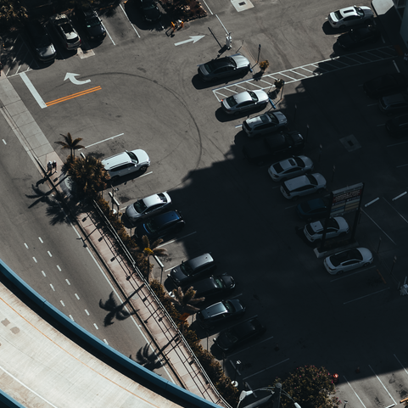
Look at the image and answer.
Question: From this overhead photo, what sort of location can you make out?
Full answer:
The area seen from above is a parking lot.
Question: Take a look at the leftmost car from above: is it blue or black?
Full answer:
From above, the leftmost car appears black.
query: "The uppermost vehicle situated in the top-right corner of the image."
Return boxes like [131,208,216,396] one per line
[325,3,376,32]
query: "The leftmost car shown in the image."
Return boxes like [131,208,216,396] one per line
[21,23,58,65]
